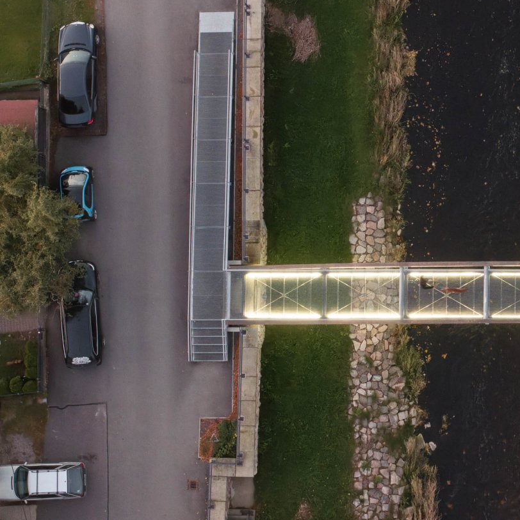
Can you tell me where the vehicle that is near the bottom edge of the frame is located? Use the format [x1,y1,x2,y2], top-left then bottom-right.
[0,462,86,508]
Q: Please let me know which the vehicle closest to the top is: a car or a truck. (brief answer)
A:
car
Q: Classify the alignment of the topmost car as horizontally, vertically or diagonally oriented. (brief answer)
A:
vertically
